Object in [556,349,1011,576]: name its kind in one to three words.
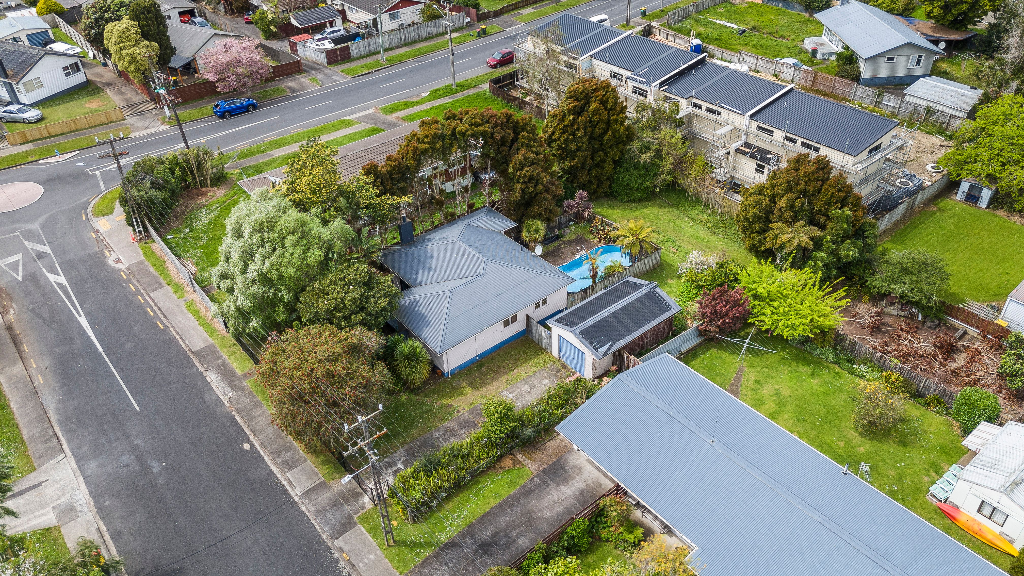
house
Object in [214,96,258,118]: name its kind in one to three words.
car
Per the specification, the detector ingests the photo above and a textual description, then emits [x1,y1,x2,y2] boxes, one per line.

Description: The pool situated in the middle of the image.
[557,242,636,303]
